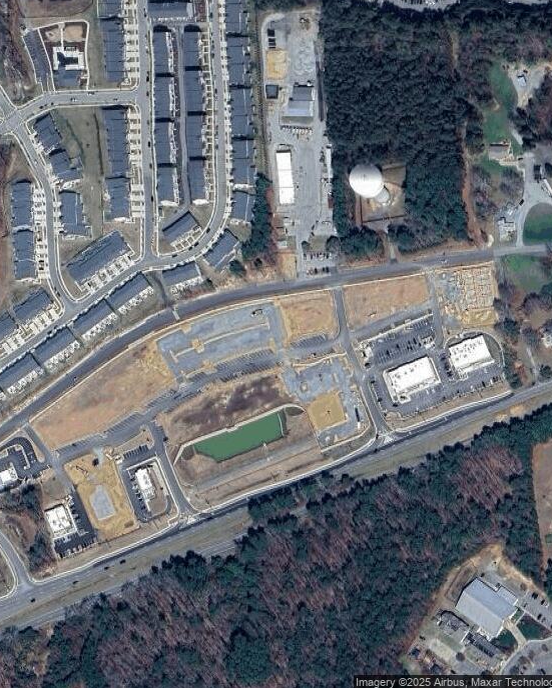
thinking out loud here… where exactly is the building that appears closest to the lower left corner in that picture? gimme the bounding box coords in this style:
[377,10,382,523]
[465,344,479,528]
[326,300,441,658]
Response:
[46,506,75,539]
